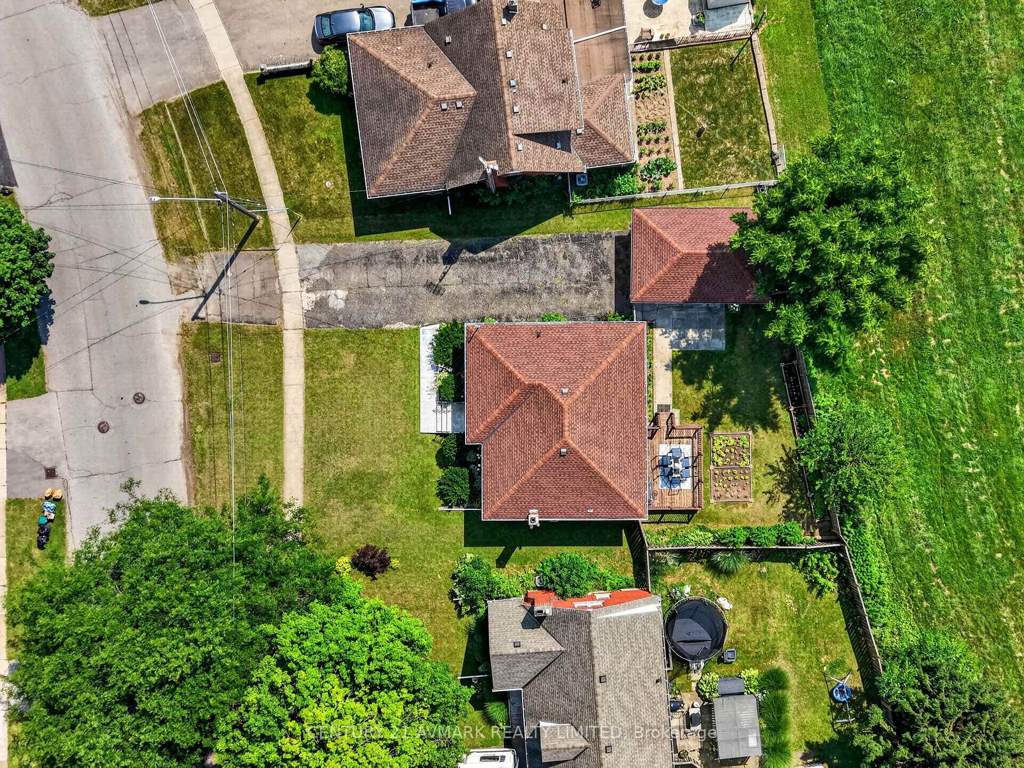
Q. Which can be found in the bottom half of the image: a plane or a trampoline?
trampoline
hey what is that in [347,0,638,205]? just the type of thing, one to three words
house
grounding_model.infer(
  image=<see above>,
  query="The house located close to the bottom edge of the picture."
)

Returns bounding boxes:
[489,585,675,768]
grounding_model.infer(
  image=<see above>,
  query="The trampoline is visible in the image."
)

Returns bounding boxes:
[668,595,728,662]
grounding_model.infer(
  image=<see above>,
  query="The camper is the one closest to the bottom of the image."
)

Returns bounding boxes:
[462,741,518,768]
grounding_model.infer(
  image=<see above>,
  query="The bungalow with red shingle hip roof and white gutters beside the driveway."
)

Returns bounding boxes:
[466,322,648,525]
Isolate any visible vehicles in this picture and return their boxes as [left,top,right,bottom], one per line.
[462,741,518,768]
[408,0,469,26]
[313,5,396,49]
